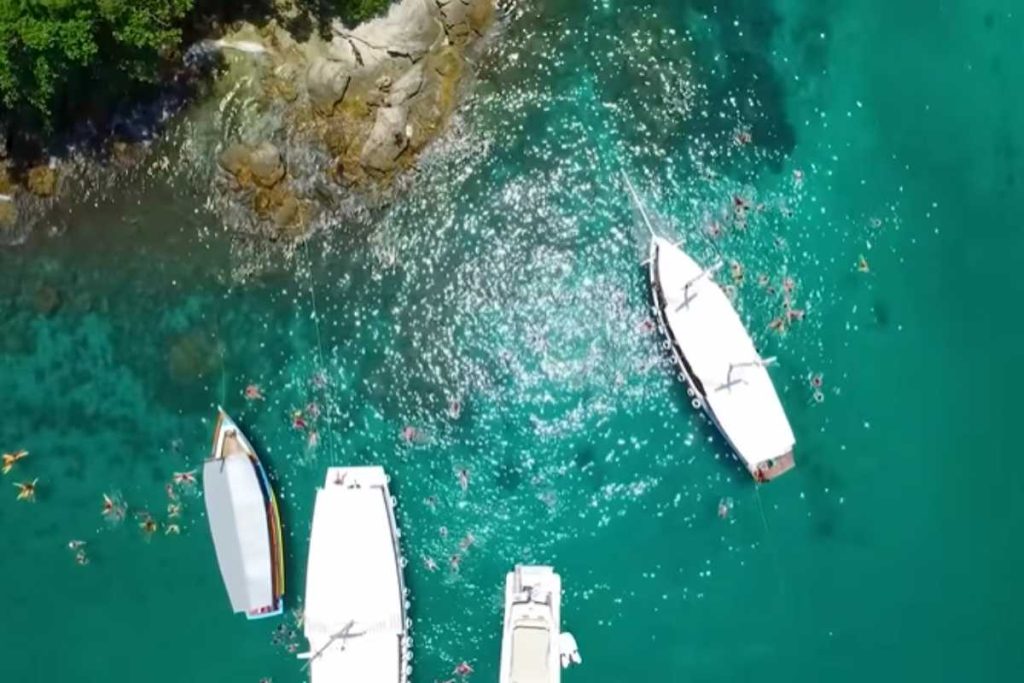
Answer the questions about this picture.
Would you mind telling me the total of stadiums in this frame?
none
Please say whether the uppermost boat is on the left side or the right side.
right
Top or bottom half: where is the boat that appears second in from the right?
bottom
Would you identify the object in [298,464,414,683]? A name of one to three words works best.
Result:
boat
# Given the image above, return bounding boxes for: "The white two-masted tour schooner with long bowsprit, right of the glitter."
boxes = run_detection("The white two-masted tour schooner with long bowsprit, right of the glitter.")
[622,170,800,481]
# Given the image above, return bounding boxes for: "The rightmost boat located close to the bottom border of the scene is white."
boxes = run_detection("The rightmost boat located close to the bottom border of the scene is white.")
[561,630,583,669]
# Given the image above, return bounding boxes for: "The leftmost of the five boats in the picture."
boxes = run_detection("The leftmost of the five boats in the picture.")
[202,407,287,622]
